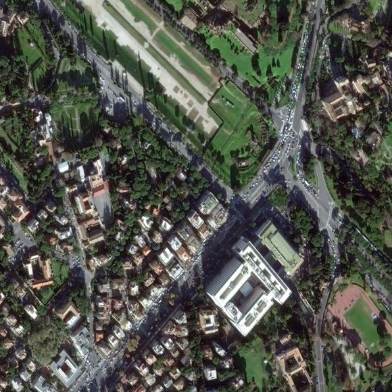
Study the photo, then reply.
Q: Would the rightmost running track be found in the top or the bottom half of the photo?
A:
bottom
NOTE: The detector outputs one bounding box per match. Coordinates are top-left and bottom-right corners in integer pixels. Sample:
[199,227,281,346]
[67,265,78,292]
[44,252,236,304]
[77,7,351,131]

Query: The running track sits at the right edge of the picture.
[329,284,392,368]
